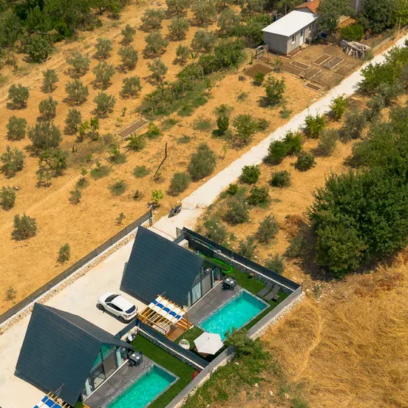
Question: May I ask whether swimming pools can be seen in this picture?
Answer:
Yes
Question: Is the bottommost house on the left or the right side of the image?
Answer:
left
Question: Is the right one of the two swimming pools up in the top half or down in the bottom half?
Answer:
bottom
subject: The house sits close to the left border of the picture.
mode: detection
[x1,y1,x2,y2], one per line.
[7,302,139,408]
